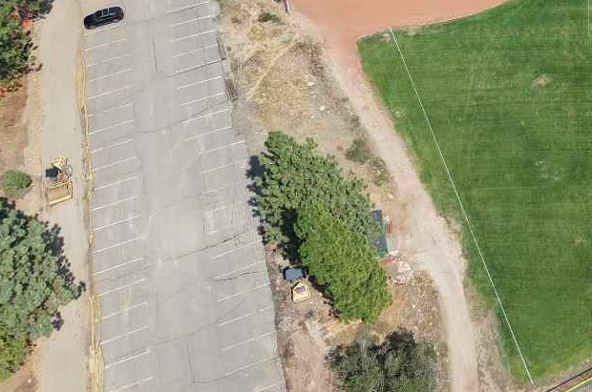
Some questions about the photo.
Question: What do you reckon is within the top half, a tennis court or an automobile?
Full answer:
Looking within the top half, you will find an automobile.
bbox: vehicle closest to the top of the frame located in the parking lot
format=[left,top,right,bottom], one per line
[80,2,125,30]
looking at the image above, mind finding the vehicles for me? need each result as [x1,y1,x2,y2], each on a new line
[279,257,309,304]
[41,158,72,211]
[80,2,125,30]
